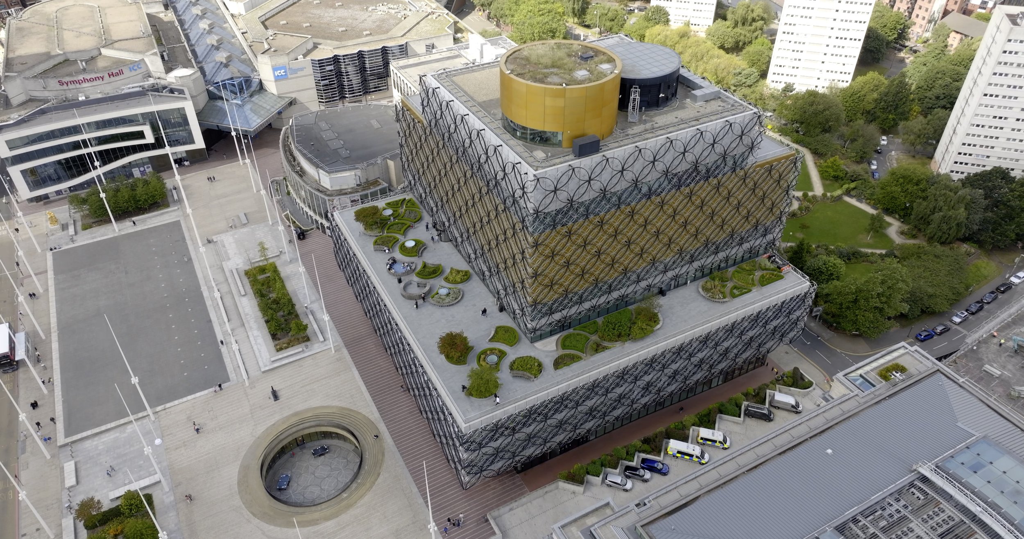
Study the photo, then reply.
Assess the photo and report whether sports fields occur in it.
Yes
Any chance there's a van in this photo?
Yes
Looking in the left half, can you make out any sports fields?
No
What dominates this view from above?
buildings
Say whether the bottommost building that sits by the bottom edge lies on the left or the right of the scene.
right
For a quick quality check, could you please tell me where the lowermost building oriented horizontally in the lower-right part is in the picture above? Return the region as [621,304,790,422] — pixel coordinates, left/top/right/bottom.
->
[550,342,1024,539]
